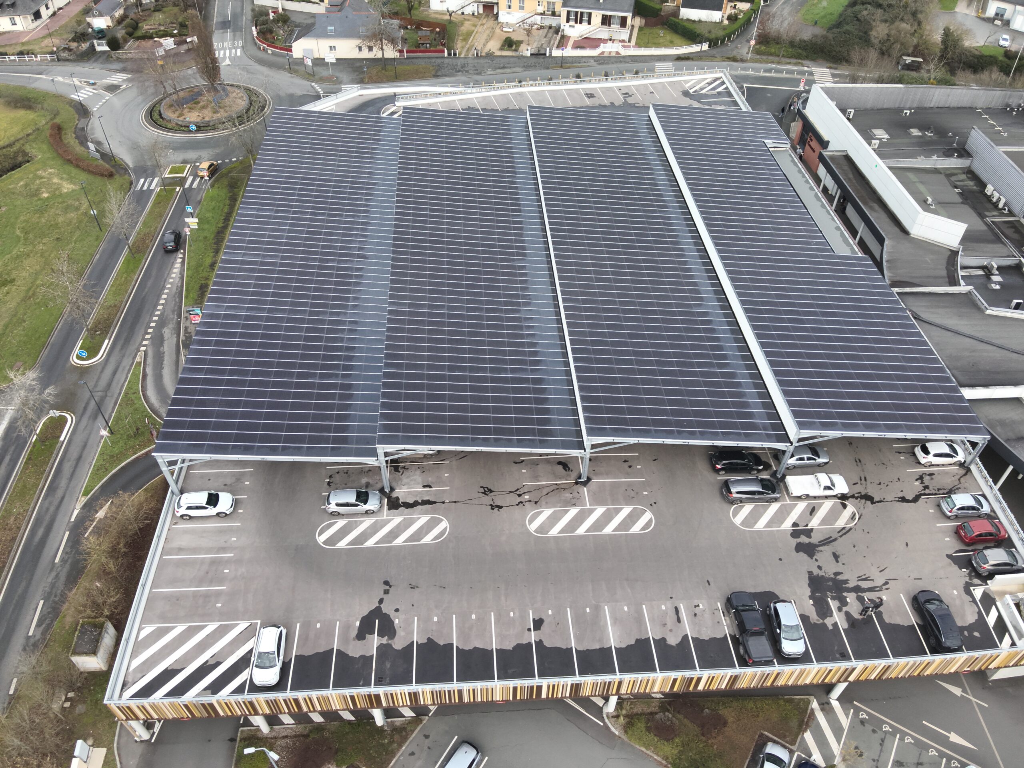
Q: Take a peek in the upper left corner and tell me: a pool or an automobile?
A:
automobile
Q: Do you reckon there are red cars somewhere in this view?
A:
Yes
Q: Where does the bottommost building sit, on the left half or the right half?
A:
left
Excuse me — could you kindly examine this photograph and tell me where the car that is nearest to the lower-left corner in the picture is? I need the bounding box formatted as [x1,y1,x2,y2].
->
[250,627,288,689]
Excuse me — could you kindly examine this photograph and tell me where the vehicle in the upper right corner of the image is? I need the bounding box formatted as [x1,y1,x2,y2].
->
[996,33,1015,46]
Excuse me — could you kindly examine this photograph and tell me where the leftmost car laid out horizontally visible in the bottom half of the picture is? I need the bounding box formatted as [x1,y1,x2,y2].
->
[172,488,235,520]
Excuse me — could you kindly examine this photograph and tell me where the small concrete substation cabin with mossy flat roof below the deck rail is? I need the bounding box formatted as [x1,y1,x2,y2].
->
[66,614,120,670]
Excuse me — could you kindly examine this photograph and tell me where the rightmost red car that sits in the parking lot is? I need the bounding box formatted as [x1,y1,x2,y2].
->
[952,517,1011,547]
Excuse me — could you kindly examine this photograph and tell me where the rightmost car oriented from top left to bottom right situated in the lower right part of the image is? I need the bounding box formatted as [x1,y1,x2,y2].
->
[912,591,968,657]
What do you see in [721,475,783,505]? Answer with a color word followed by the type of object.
gray car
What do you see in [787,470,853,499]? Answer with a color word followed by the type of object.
white truck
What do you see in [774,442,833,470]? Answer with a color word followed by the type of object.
gray car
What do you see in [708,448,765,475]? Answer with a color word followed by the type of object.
black car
